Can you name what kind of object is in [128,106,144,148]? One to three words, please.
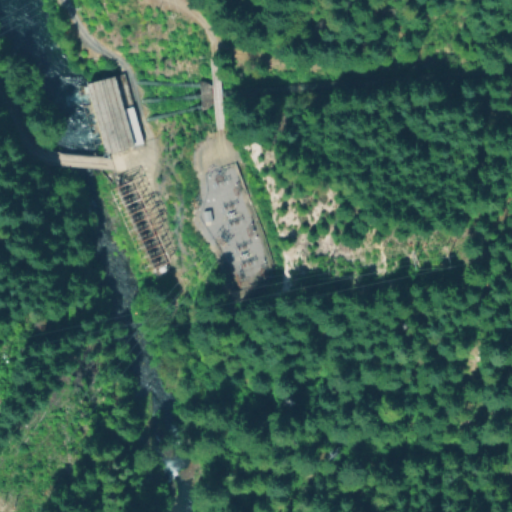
building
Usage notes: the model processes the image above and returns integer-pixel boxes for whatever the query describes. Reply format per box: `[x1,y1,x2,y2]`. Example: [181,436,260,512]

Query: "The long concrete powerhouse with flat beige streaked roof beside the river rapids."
[85,77,134,156]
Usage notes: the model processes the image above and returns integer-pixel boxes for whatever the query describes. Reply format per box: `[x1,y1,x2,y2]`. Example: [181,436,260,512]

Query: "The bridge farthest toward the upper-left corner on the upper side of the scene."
[58,152,116,168]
